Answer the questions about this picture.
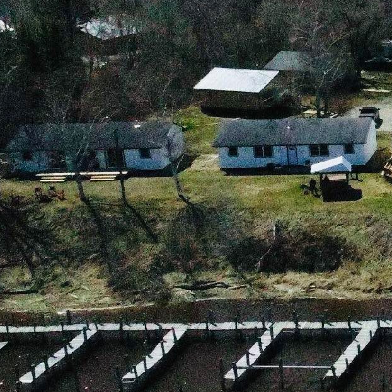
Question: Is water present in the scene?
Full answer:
Yes, some water is visible.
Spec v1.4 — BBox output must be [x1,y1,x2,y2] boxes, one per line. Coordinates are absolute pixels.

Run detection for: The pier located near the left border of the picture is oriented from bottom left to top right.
[18,325,98,392]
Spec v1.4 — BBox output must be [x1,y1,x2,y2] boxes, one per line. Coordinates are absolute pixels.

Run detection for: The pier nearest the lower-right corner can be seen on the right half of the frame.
[324,321,379,388]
